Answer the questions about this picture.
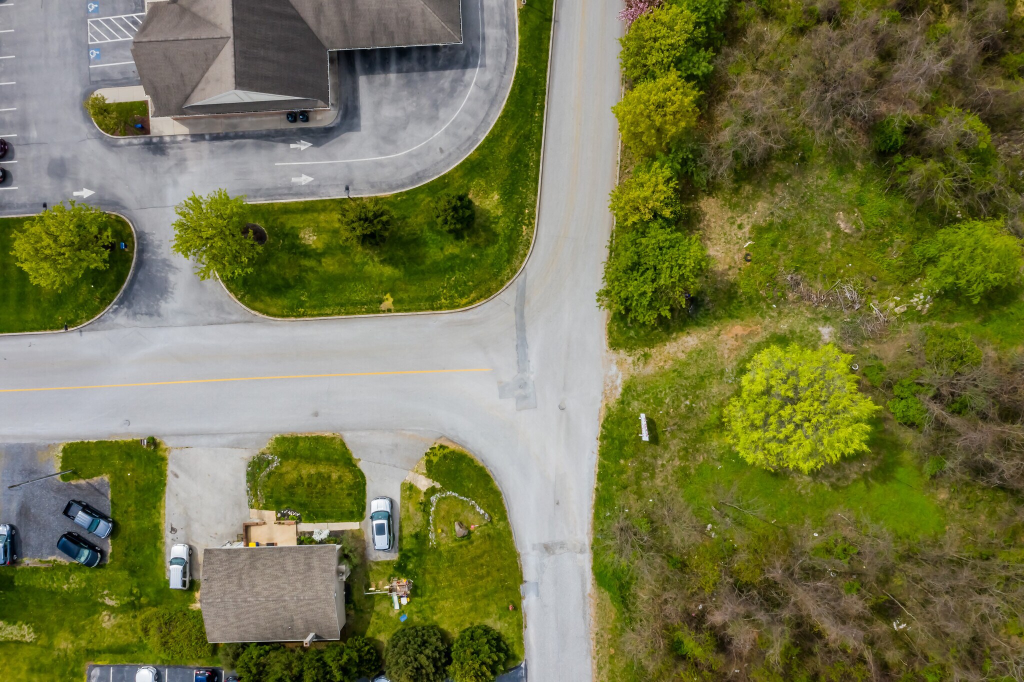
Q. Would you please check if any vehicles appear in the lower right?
No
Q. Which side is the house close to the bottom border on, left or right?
left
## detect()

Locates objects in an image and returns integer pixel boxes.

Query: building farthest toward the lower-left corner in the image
[197,541,351,650]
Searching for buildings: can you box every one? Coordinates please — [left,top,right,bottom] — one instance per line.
[127,0,462,121]
[197,541,351,650]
